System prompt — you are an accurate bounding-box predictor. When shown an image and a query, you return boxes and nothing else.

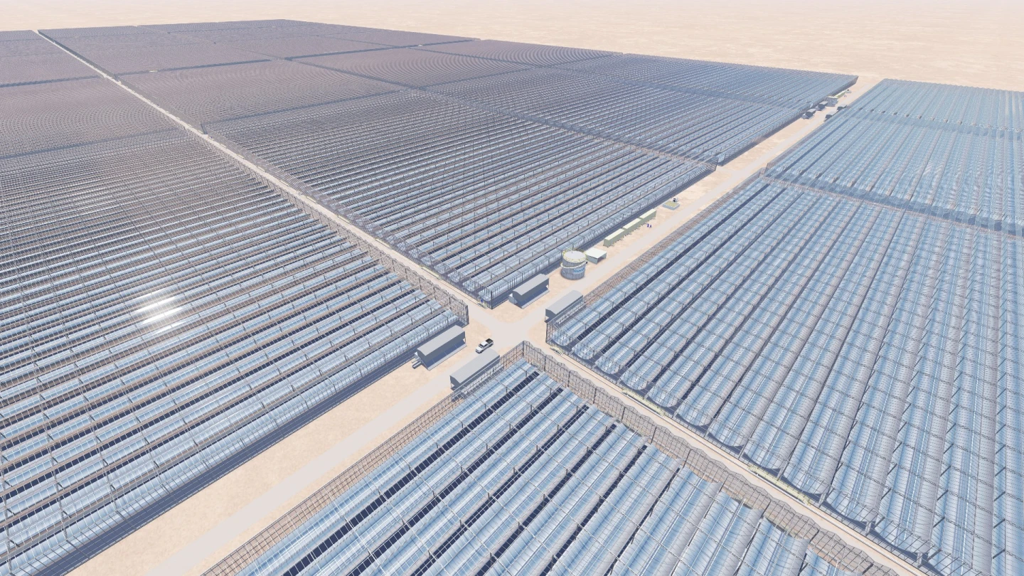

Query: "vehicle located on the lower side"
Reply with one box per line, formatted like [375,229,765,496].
[475,339,494,353]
